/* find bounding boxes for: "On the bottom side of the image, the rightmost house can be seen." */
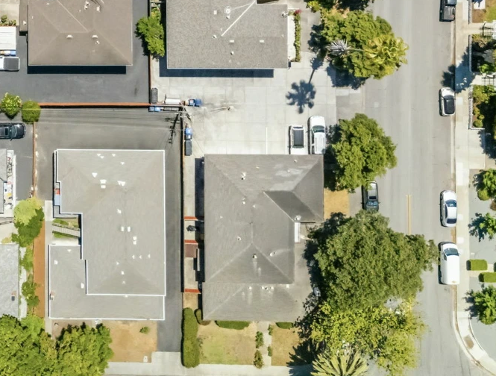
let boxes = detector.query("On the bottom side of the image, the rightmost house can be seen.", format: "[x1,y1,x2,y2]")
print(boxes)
[201,151,324,321]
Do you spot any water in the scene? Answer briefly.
No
